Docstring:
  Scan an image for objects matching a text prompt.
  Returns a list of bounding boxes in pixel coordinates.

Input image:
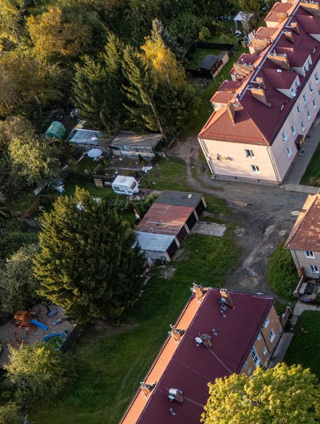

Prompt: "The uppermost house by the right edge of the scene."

[195,0,320,183]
